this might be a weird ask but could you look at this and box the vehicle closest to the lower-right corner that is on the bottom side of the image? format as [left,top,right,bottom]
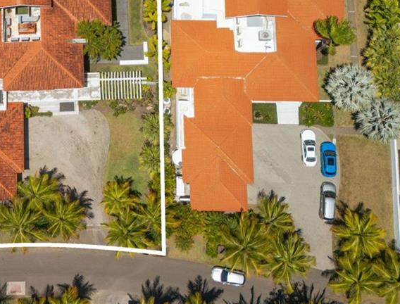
[318,182,338,221]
